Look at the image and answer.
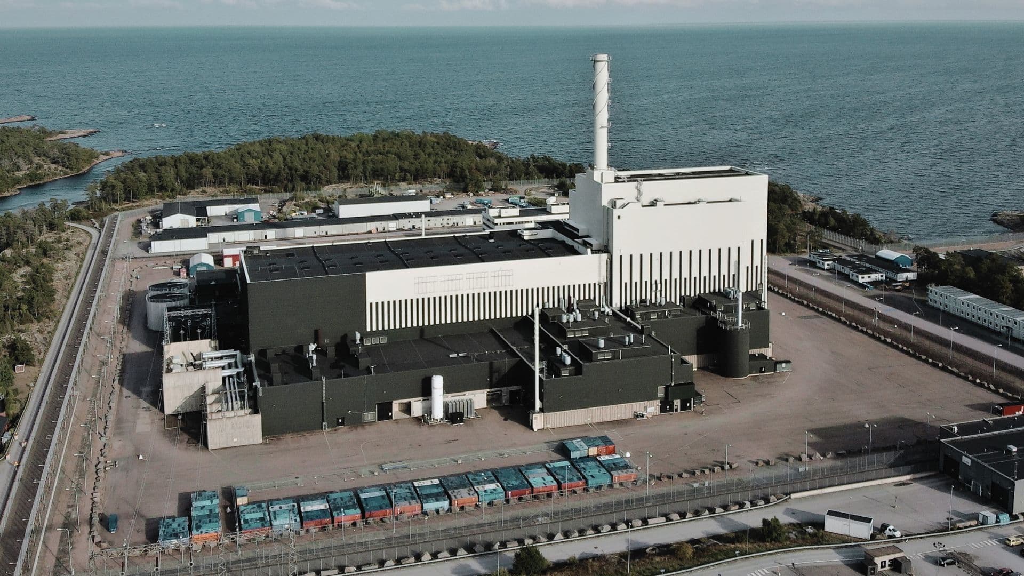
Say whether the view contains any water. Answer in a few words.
Yes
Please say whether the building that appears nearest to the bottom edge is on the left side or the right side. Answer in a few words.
right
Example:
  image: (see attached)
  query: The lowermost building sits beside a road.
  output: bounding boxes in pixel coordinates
[860,542,919,576]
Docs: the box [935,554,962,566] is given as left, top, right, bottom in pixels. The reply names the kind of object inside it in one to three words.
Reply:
vehicle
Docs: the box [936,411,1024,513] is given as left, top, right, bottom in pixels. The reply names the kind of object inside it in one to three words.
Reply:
building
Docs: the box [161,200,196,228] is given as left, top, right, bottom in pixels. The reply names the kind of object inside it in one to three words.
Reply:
building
